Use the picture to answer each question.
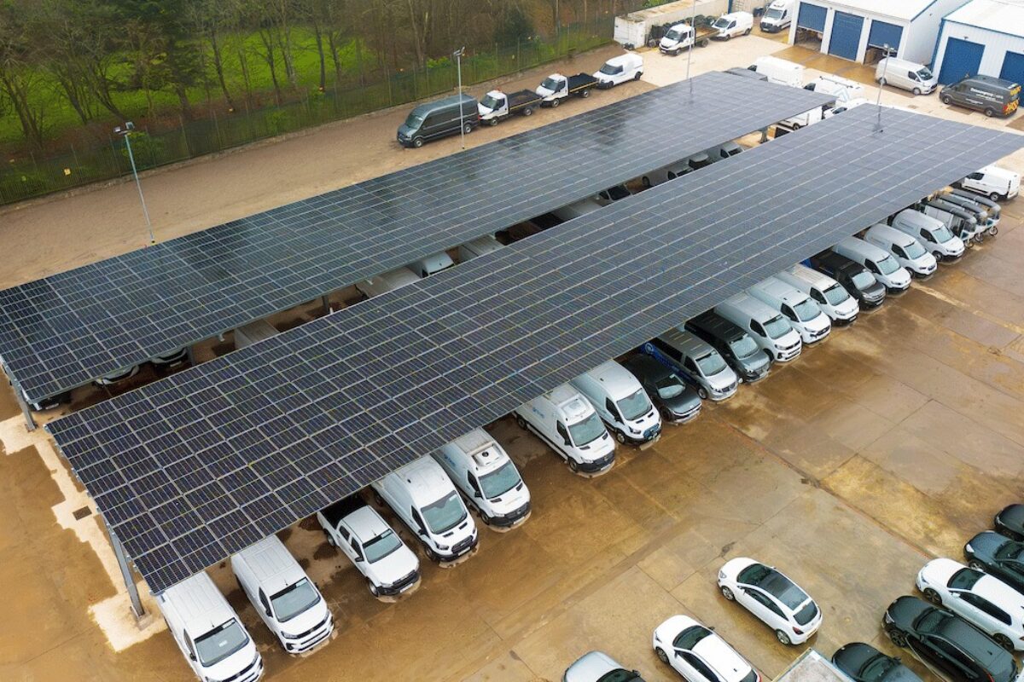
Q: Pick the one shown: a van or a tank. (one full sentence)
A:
This aerial view contains a van.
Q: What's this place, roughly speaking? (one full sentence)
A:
This image shows a solar farm.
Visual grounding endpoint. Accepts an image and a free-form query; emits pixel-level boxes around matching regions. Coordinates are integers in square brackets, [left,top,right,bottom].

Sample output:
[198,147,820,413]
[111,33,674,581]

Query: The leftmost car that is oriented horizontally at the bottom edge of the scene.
[575,645,660,682]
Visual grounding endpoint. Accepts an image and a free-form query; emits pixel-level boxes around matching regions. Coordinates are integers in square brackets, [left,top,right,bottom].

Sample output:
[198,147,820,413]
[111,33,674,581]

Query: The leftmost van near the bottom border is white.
[140,575,257,682]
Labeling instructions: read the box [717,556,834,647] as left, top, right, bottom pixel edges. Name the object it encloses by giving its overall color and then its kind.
white car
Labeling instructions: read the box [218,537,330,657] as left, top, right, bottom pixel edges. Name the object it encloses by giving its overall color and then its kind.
white van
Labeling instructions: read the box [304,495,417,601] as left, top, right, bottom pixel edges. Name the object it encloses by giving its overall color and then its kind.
white truck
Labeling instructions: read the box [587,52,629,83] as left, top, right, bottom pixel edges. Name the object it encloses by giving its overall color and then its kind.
white van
